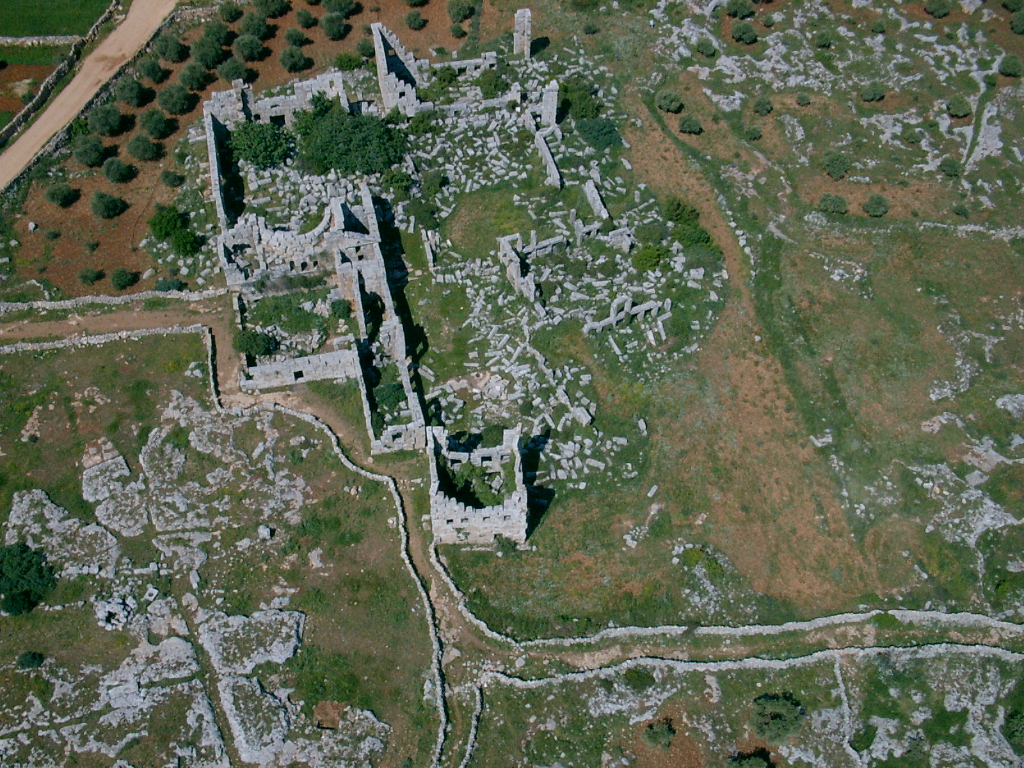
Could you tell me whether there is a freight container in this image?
No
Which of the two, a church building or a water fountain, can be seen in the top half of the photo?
church building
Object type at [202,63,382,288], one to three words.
church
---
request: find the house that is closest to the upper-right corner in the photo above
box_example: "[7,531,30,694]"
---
[498,229,567,303]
